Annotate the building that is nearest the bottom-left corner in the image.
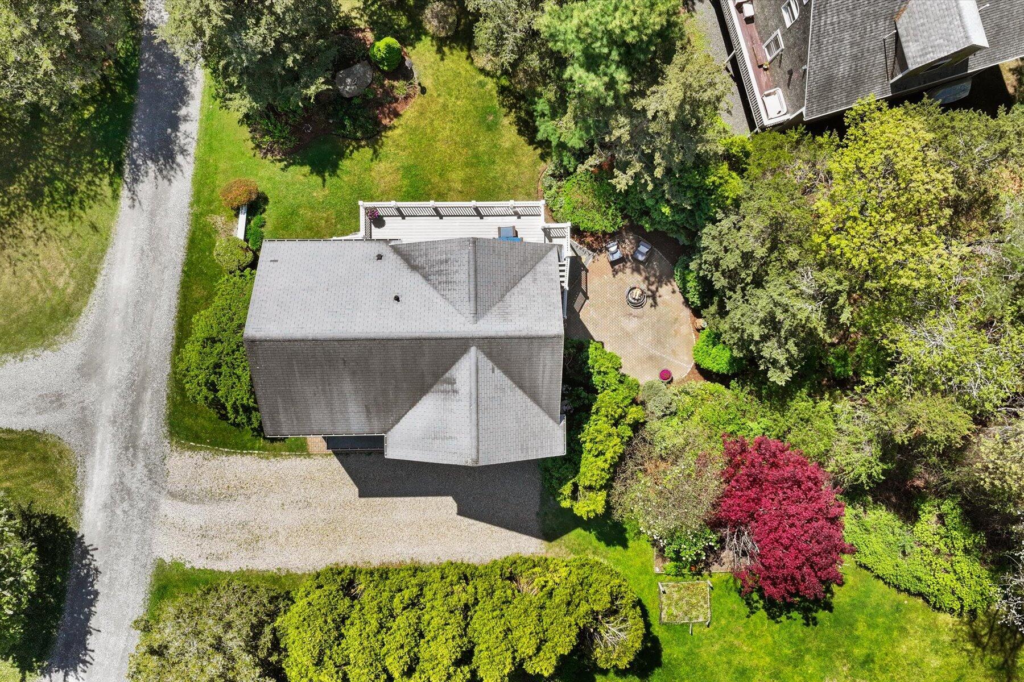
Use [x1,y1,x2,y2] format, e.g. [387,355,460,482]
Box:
[243,236,569,466]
